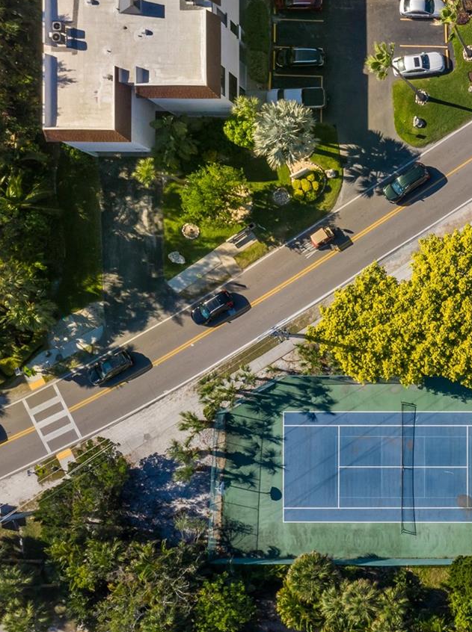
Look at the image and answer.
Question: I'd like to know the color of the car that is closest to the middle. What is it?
black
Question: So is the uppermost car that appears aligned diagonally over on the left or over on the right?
right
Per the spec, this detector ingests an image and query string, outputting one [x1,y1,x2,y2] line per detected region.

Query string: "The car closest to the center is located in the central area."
[189,289,238,327]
